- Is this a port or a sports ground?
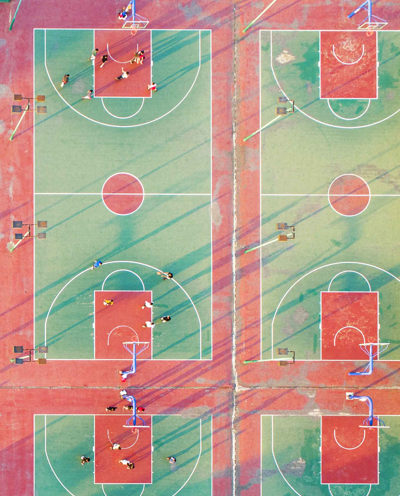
sports ground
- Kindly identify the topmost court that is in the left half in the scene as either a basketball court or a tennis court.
basketball court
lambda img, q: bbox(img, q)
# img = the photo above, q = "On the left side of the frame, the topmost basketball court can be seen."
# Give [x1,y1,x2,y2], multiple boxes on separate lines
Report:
[34,29,211,360]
